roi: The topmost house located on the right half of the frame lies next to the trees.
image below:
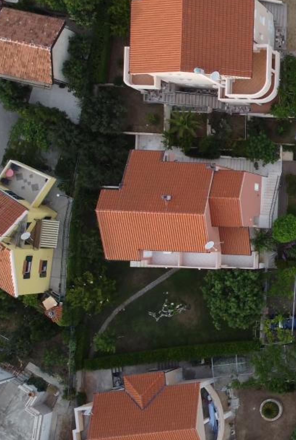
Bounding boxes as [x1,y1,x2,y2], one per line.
[125,0,293,111]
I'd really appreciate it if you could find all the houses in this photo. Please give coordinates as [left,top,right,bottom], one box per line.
[0,160,71,298]
[95,136,290,269]
[71,364,233,440]
[0,354,71,440]
[0,7,85,90]
[125,0,293,111]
